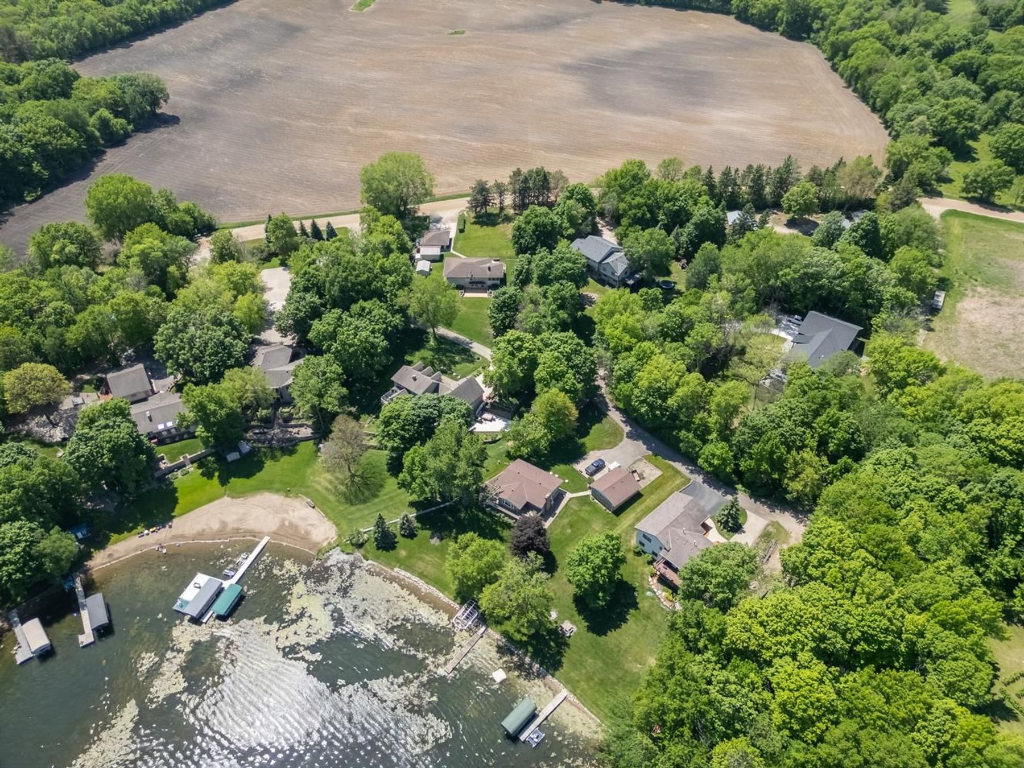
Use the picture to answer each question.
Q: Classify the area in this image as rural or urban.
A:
rural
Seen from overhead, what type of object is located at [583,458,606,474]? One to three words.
vehicle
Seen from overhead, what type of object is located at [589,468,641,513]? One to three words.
building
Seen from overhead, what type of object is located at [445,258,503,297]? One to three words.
house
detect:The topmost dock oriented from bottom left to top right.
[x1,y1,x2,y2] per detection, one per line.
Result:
[199,537,271,623]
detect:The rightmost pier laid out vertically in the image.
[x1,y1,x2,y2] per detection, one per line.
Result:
[73,574,96,650]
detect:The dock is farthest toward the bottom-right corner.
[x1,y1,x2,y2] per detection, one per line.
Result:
[518,689,569,743]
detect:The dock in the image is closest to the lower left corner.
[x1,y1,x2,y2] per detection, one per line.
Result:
[5,606,38,668]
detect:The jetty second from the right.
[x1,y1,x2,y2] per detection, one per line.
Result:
[443,626,486,676]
